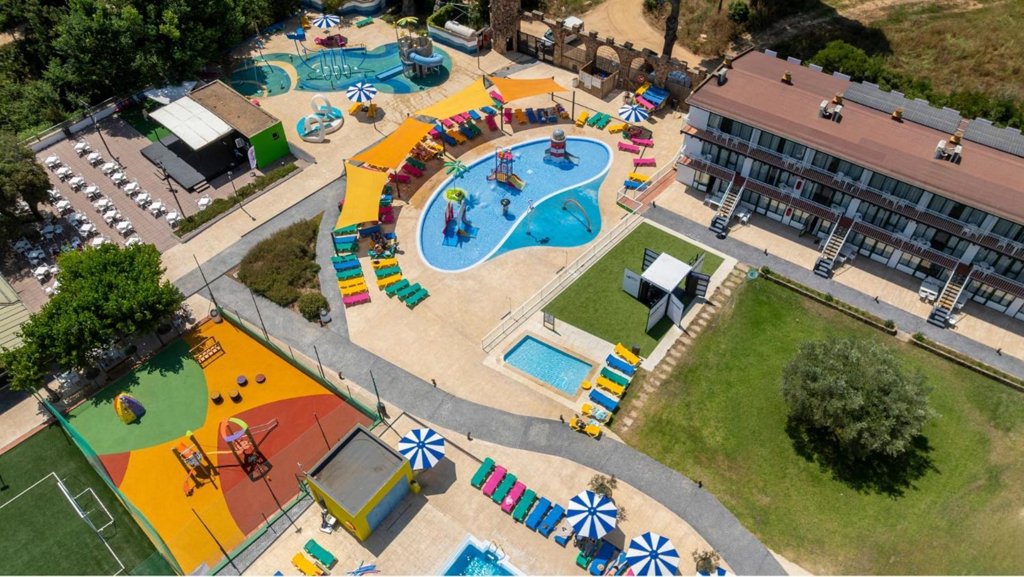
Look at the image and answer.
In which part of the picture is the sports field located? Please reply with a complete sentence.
Look in the bottom left portion of the view to spot the sports field.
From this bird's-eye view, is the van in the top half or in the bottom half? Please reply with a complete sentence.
The van sits in the top half of the picture.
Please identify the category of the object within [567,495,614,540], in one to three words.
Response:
umbrella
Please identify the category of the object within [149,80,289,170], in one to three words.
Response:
building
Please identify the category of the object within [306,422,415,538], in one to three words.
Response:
shed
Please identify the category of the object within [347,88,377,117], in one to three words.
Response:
umbrella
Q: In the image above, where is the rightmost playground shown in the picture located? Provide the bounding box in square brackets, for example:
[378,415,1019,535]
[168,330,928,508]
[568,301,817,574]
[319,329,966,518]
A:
[217,394,378,536]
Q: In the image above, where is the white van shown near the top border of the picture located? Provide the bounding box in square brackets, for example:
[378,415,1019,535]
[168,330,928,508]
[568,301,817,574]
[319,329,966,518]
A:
[542,14,586,46]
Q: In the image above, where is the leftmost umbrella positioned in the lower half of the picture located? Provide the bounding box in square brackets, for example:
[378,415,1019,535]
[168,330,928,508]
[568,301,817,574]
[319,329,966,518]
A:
[400,432,445,473]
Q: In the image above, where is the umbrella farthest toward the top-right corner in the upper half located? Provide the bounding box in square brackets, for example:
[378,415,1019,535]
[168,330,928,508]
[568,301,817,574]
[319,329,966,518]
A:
[618,108,648,133]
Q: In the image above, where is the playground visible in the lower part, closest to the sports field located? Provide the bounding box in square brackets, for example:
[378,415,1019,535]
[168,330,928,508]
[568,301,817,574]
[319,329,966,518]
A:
[61,339,210,455]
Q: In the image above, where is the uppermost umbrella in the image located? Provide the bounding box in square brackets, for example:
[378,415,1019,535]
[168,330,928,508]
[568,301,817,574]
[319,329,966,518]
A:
[314,18,341,45]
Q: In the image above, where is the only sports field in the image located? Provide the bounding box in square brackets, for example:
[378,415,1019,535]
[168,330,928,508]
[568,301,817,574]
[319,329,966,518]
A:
[0,421,182,577]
